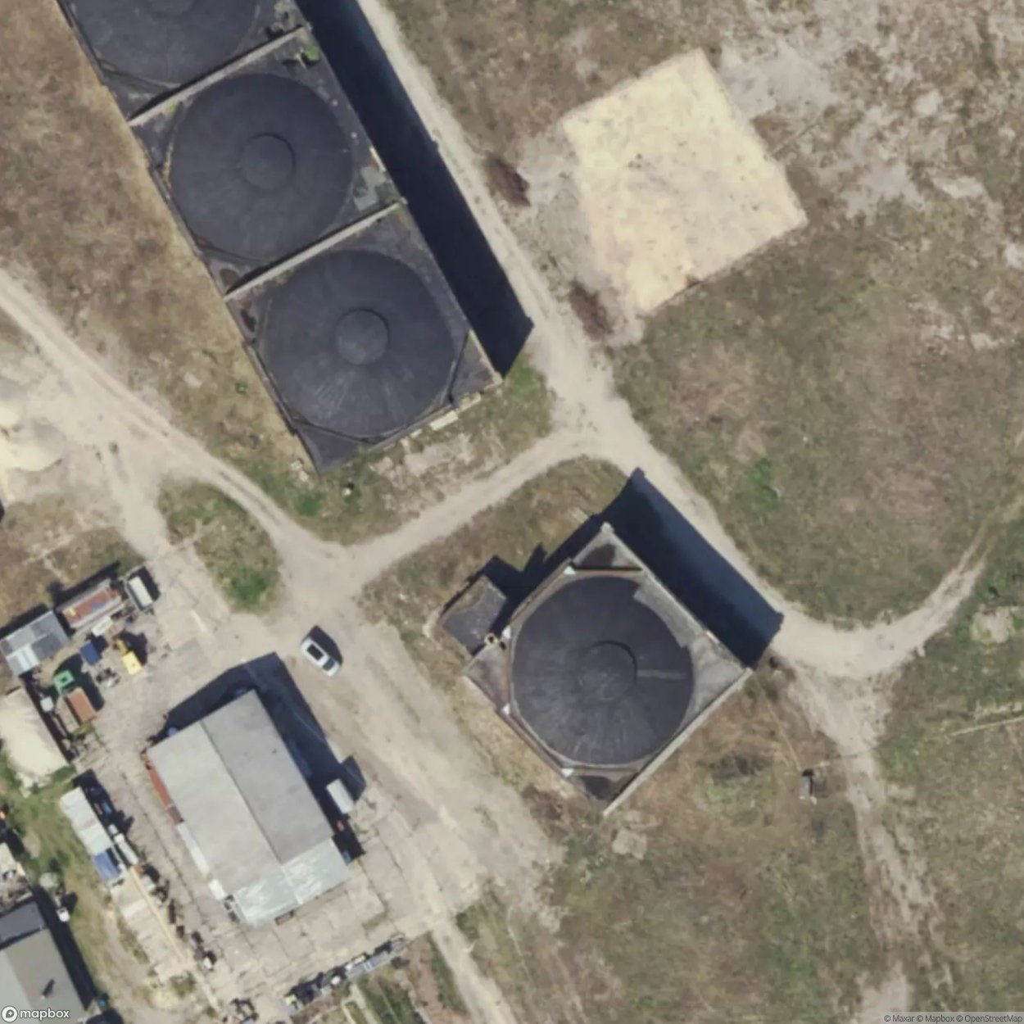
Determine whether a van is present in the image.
Yes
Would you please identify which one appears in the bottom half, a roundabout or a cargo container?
cargo container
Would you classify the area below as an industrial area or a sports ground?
industrial area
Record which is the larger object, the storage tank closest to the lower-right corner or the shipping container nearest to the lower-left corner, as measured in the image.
the storage tank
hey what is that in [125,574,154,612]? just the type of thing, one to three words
van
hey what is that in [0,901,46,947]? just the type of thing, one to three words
building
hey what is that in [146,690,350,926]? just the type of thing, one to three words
warehouse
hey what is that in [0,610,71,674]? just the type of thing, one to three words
shed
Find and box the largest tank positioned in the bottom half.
[461,525,752,815]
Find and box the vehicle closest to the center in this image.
[301,638,339,674]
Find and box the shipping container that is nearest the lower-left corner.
[68,687,96,723]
